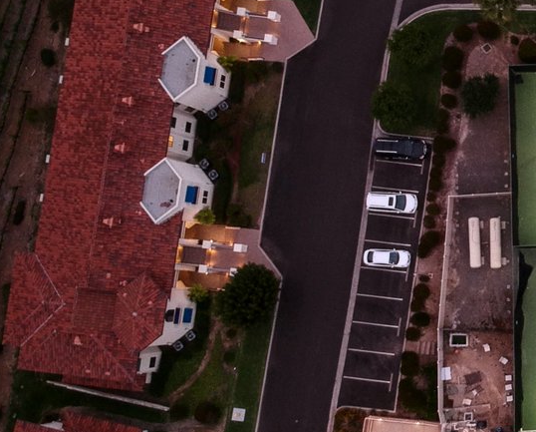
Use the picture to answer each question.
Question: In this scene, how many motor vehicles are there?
3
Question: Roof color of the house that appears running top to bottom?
red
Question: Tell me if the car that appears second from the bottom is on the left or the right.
right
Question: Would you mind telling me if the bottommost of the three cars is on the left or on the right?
right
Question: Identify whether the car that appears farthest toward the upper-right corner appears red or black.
black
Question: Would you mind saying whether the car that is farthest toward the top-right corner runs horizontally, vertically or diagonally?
horizontally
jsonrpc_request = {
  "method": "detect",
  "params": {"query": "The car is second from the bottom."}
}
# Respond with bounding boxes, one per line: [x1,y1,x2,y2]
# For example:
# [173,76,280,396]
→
[368,191,416,215]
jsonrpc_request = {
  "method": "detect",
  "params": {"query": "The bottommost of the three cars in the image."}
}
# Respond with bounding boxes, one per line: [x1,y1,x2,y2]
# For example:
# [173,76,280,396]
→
[364,248,411,270]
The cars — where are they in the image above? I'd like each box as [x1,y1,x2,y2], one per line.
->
[377,137,425,159]
[364,248,411,270]
[368,191,416,215]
